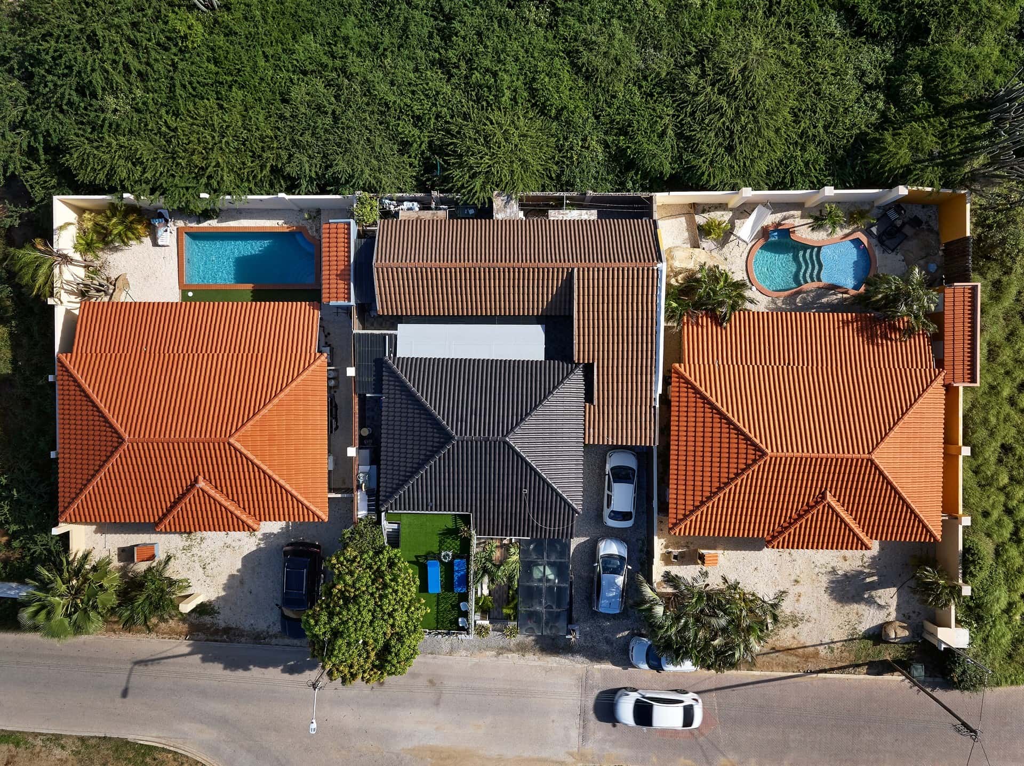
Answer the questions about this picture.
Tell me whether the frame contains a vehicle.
Yes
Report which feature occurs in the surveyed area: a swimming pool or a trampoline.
swimming pool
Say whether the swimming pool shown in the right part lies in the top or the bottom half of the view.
top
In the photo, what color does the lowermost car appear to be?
white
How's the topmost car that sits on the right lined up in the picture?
vertically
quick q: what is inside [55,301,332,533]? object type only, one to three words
house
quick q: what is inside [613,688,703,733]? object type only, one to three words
car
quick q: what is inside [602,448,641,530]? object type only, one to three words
car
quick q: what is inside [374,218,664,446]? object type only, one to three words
house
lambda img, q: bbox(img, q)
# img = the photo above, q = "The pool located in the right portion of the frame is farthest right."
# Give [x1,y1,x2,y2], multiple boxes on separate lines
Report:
[747,222,877,298]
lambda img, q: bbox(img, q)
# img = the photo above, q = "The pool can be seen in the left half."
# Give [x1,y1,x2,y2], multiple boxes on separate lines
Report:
[177,225,321,290]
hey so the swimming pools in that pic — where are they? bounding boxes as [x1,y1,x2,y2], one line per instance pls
[747,222,877,298]
[177,225,321,290]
